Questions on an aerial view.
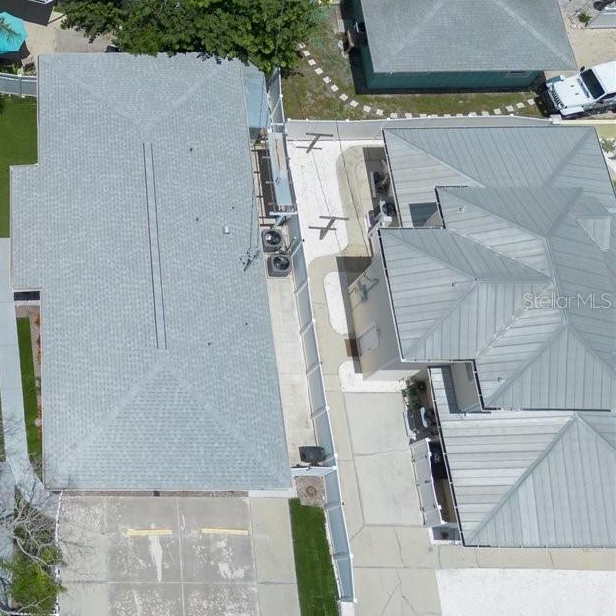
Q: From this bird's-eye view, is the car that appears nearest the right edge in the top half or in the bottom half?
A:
top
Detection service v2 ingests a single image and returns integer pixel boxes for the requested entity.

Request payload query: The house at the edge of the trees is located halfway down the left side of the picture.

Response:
[10,53,295,493]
